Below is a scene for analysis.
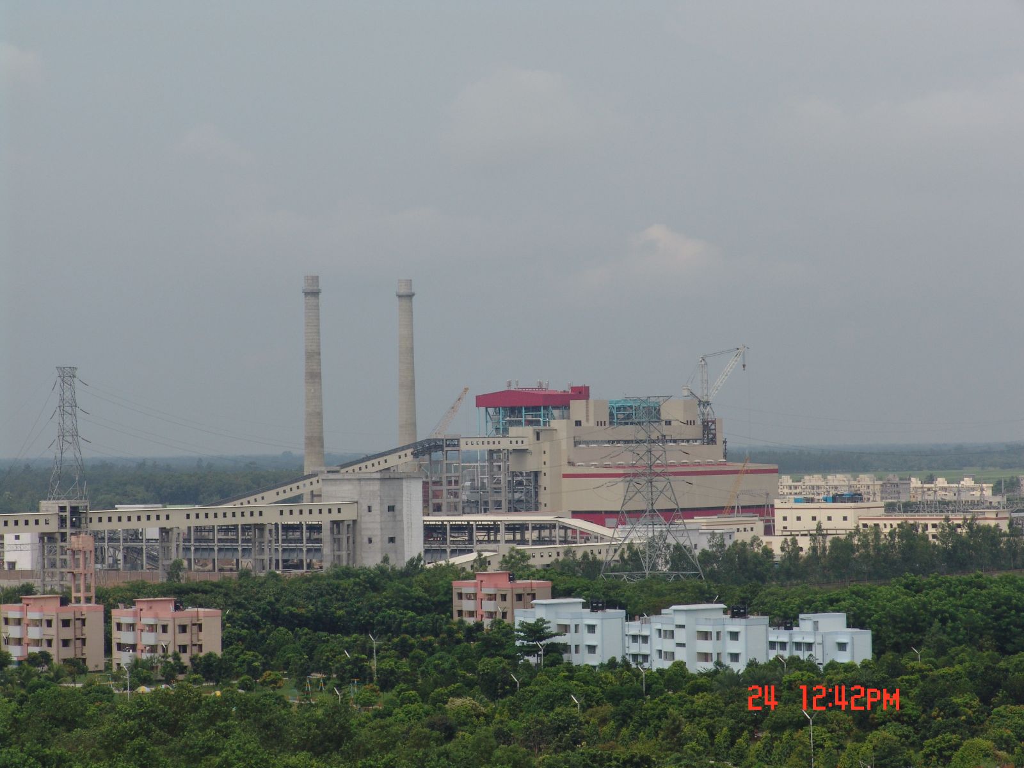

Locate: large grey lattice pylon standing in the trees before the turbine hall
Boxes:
[593,396,707,588]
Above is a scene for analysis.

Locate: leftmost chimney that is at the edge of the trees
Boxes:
[303,275,324,498]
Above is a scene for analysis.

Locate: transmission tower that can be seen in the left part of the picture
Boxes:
[48,367,91,567]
